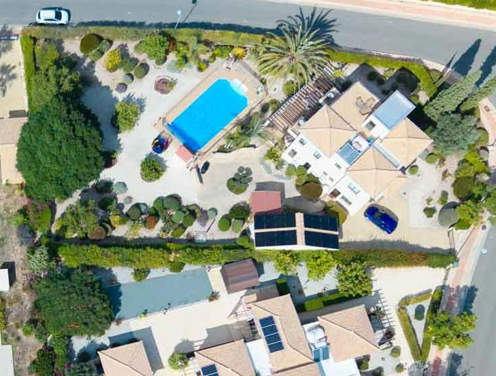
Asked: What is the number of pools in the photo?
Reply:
one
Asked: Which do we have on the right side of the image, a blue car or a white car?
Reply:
blue car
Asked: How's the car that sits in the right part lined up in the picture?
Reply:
at an angle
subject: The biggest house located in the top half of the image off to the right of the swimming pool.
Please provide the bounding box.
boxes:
[277,82,434,212]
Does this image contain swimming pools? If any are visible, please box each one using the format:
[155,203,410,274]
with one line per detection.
[164,78,249,154]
